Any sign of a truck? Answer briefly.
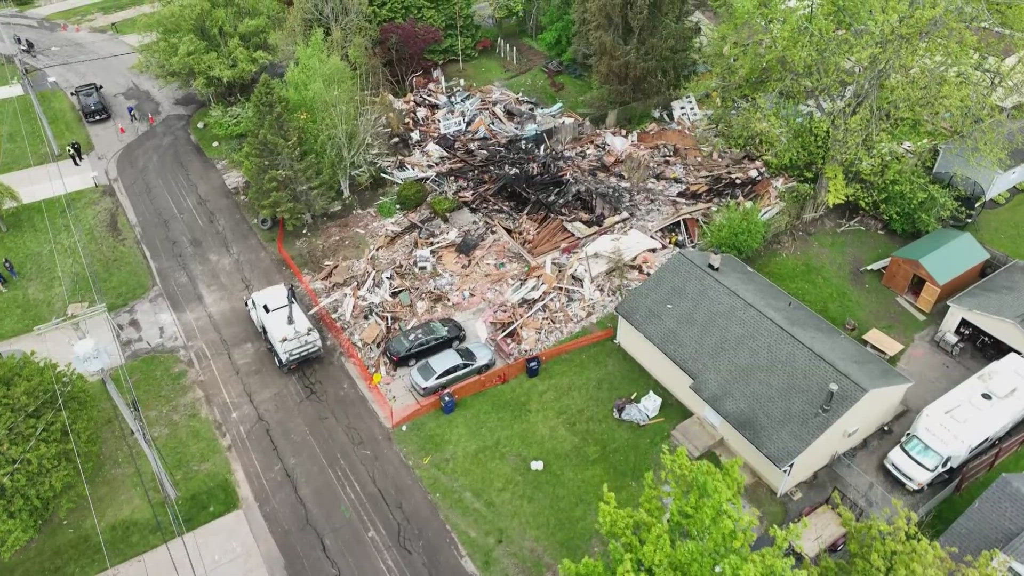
Yes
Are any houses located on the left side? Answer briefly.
No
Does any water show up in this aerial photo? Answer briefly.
No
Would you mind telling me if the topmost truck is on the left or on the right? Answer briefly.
left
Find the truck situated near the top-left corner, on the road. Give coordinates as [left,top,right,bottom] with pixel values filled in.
[71,81,111,120]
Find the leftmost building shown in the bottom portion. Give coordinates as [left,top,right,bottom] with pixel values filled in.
[609,248,920,498]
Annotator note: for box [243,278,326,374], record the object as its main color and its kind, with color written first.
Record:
white truck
